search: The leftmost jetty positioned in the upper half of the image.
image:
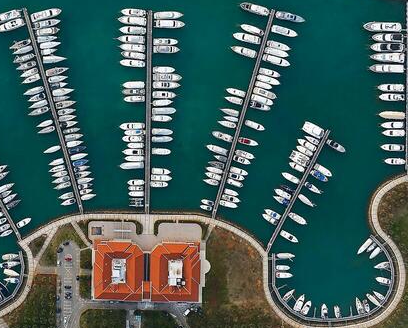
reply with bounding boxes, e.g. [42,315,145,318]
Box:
[22,8,84,214]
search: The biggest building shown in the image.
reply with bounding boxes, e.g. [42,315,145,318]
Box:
[93,238,200,301]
